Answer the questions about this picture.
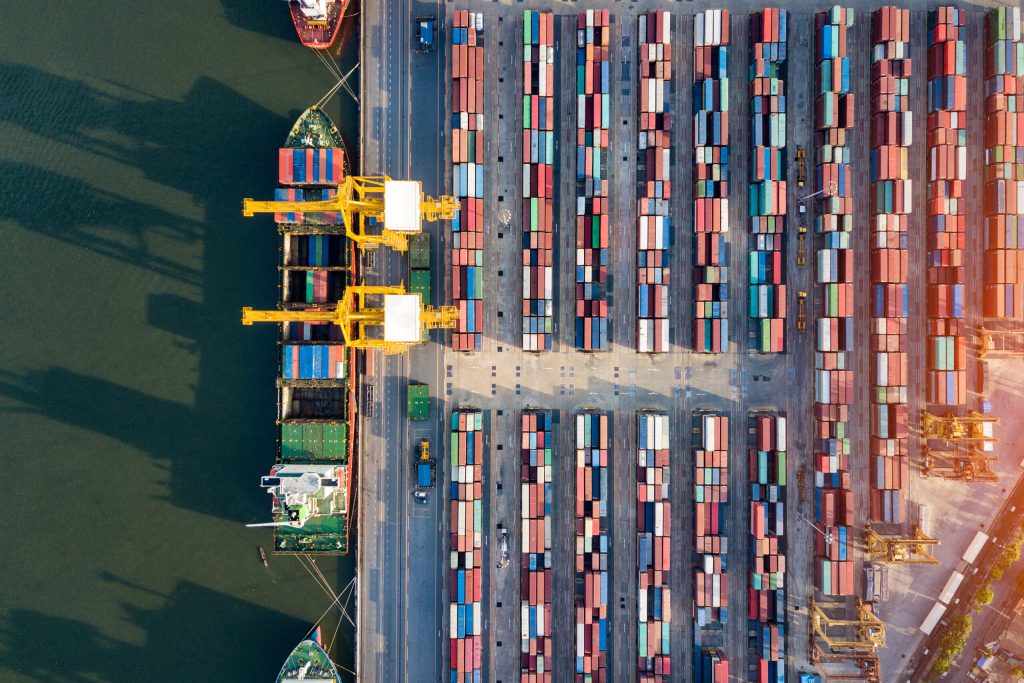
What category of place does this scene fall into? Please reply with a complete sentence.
This looks like a port.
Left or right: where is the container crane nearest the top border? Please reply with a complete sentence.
It is on the left.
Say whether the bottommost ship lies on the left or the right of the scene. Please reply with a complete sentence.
The bottommost ship is on the left side of the image.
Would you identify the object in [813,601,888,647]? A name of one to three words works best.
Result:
container crane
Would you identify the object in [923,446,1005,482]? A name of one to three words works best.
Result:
container crane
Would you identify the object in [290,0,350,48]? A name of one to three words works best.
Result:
ship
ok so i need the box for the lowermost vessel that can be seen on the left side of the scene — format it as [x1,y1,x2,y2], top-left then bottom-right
[277,627,342,683]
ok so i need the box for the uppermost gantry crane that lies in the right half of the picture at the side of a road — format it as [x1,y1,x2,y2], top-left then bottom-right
[980,327,1024,358]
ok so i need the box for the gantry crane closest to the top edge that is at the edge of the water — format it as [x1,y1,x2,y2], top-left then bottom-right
[243,174,463,258]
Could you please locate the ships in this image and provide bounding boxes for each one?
[290,0,350,48]
[246,106,355,554]
[277,627,342,683]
